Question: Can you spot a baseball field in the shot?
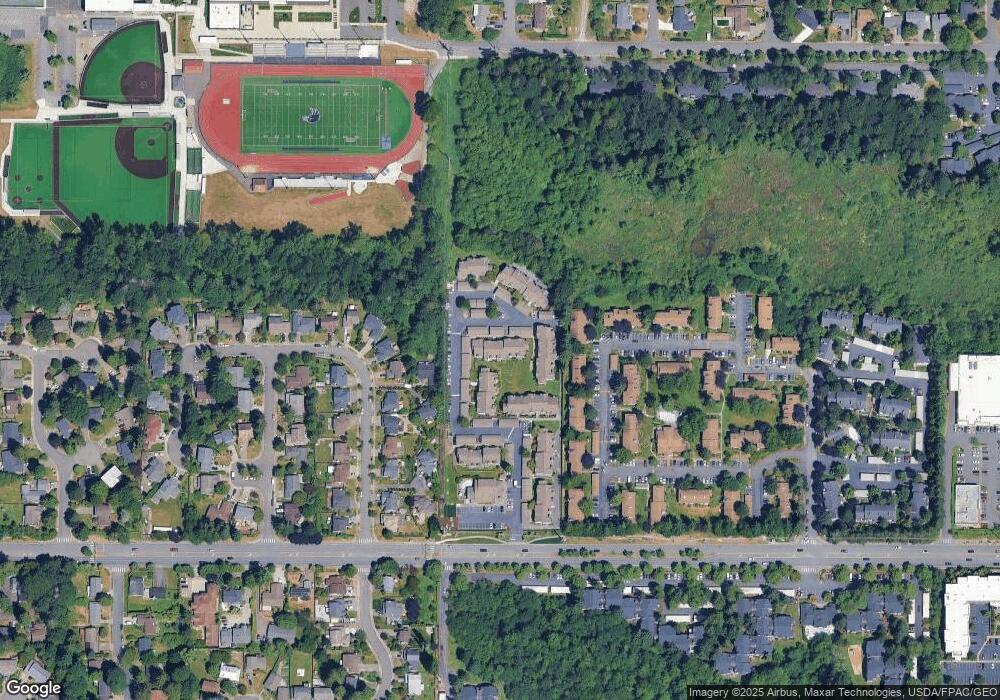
Yes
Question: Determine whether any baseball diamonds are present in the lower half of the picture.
No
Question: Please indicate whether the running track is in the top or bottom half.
top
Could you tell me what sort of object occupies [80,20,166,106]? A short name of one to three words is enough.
baseball field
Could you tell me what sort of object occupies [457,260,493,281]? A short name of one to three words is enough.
building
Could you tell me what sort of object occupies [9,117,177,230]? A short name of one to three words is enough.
baseball field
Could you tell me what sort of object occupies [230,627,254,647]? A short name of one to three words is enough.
house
